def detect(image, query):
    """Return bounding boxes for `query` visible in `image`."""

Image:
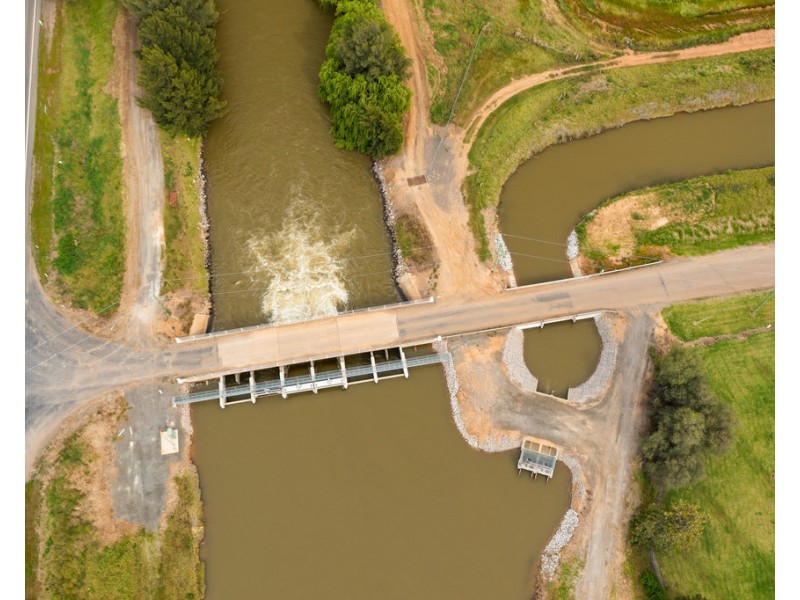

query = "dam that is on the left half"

[220,346,409,412]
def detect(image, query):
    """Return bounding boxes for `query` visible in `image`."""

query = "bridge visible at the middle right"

[505,254,662,335]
